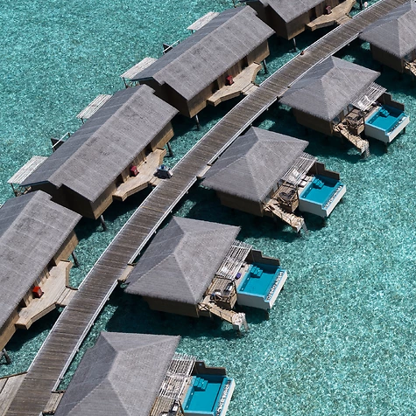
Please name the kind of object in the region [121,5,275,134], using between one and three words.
house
